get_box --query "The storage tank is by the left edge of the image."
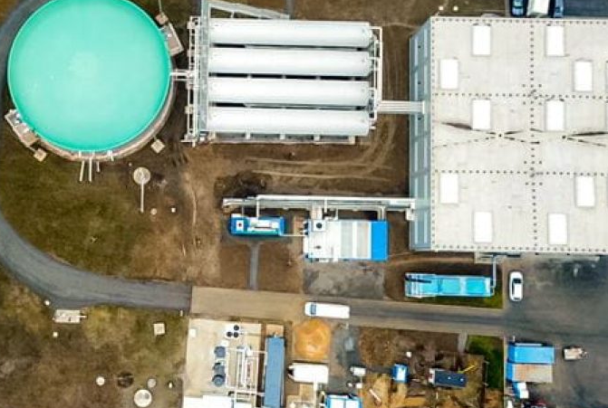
[3,0,183,182]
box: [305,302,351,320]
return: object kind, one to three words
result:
vehicle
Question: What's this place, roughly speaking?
industrial area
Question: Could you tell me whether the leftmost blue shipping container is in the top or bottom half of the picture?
bottom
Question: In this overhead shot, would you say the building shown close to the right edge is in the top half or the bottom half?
top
